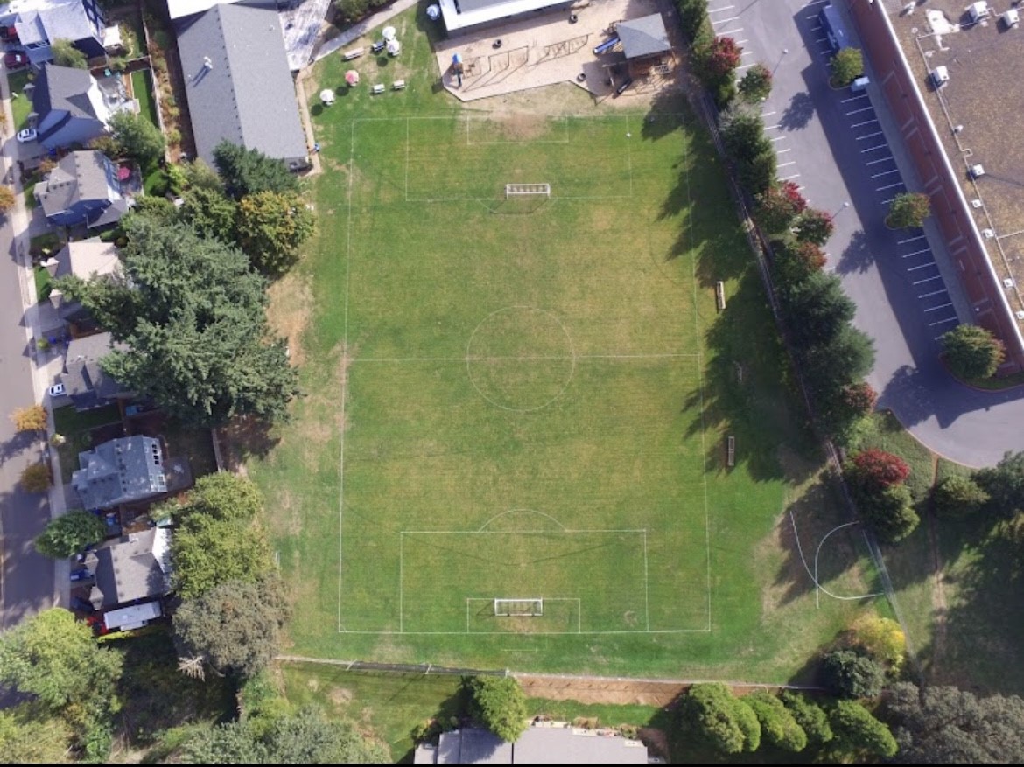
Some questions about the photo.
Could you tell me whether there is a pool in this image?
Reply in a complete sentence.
No, there's no pool here.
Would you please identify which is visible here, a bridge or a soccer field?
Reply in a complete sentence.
This aerial view contains a soccer field.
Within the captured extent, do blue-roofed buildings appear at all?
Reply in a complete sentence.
Yes, a blue-roofed building is visible in the scene.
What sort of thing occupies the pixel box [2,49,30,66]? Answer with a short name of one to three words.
car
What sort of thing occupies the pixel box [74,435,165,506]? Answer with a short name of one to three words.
house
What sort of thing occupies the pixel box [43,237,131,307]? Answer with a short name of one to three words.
house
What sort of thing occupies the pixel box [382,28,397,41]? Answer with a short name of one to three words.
umbrella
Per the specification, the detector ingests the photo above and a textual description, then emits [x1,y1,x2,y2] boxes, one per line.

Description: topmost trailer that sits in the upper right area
[824,1,854,44]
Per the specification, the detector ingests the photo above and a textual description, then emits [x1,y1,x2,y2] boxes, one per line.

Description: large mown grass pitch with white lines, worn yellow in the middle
[335,111,714,636]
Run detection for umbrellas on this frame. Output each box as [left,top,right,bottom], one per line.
[426,6,441,23]
[382,28,397,41]
[321,89,335,104]
[387,39,401,54]
[346,71,360,87]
